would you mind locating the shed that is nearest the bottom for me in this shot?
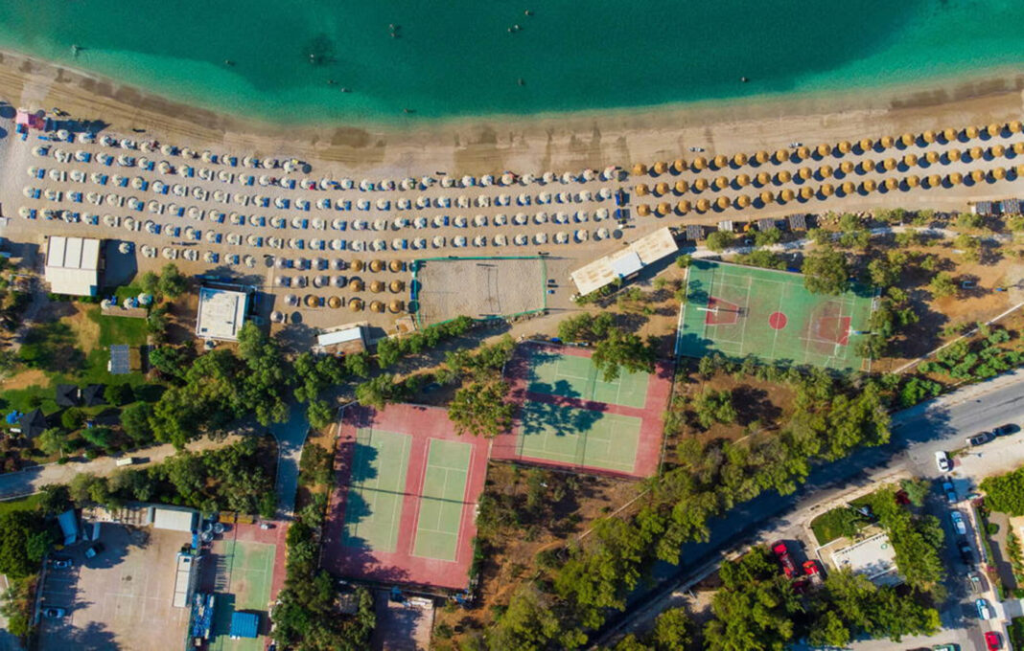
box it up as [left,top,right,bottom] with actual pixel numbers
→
[230,608,263,639]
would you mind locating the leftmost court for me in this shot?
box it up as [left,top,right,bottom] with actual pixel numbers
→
[190,521,287,651]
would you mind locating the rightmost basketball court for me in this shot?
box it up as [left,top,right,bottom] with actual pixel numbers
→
[677,259,874,376]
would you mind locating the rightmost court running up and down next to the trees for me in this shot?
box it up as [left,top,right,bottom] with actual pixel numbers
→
[400,406,491,590]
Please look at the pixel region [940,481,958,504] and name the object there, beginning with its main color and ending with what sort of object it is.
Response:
blue car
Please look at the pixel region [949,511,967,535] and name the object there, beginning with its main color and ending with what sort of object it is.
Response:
blue car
